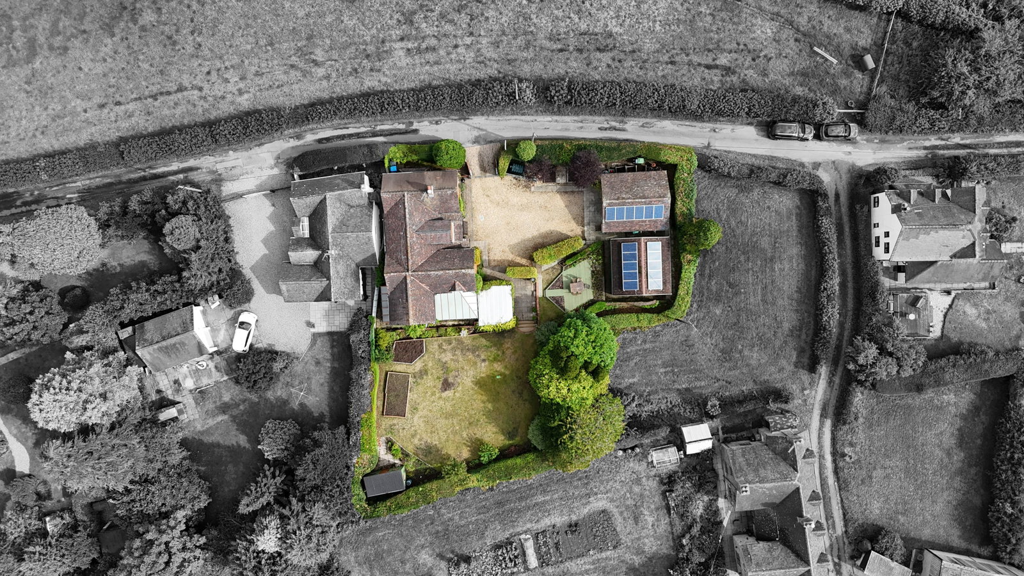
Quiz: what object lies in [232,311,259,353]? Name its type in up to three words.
car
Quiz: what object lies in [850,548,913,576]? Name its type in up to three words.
shed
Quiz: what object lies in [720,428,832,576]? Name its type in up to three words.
house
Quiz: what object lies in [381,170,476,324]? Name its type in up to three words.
house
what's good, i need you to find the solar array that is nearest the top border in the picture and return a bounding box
[605,205,665,221]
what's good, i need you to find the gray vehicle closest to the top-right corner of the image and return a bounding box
[819,121,857,142]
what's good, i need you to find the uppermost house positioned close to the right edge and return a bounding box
[873,183,1007,261]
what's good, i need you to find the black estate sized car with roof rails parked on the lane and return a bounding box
[768,120,812,142]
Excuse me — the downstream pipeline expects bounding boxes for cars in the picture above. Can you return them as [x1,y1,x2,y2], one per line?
[768,120,812,142]
[819,121,857,142]
[232,311,259,353]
